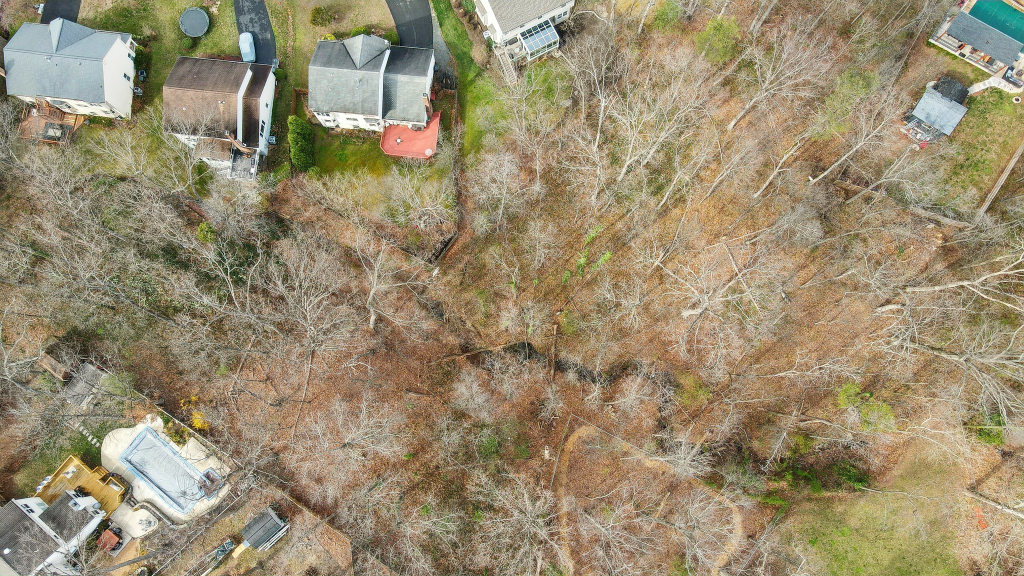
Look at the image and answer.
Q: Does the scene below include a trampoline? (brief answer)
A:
Yes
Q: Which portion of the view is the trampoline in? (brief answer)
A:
top left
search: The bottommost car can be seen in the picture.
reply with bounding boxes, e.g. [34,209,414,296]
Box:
[241,34,258,64]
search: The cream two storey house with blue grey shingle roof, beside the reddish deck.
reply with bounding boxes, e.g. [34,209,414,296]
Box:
[0,13,148,121]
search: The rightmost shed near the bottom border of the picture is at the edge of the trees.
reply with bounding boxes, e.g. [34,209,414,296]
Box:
[243,505,288,549]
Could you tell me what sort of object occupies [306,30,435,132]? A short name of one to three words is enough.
house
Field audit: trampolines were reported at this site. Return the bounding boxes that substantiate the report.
[180,8,211,43]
